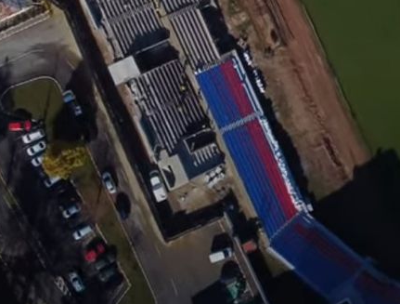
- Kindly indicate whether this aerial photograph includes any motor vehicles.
Yes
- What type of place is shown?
sports ground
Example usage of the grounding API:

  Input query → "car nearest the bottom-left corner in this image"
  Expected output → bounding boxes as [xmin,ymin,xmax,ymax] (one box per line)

[66,273,83,293]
